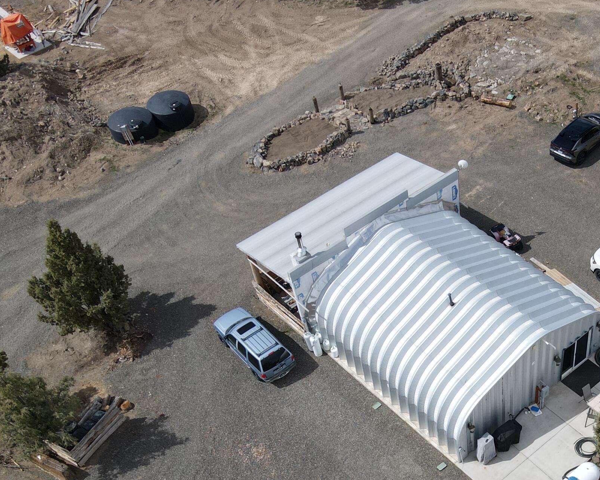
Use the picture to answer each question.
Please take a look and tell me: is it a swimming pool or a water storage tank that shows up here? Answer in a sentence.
The one in the frame is a water storage tank.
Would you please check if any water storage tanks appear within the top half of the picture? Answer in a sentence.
Yes, there is a water storage tank within the top half of the picture.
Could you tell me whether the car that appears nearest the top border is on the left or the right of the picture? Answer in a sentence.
The car that appears nearest the top border appears in the right half of the scene.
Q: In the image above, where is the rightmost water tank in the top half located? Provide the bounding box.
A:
[146,91,199,136]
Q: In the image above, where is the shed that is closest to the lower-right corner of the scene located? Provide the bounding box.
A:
[318,213,600,465]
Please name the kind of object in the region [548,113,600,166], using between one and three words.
car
